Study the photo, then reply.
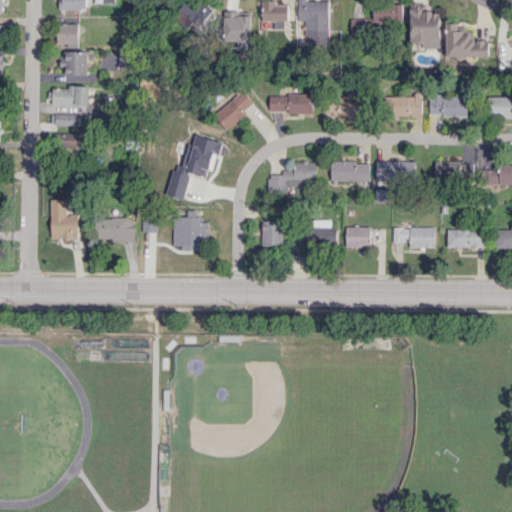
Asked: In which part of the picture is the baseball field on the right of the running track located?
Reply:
bottom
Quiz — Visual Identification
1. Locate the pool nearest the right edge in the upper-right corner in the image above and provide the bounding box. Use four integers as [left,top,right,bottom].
[414,50,444,68]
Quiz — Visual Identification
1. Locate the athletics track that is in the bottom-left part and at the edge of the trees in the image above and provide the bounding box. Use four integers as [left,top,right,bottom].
[0,338,91,508]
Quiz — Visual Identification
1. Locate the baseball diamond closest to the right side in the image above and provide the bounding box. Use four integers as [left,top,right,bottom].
[170,340,418,512]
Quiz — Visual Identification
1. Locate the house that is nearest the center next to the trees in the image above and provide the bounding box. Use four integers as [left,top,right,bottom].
[261,221,288,246]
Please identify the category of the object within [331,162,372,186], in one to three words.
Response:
house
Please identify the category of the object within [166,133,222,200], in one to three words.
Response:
house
